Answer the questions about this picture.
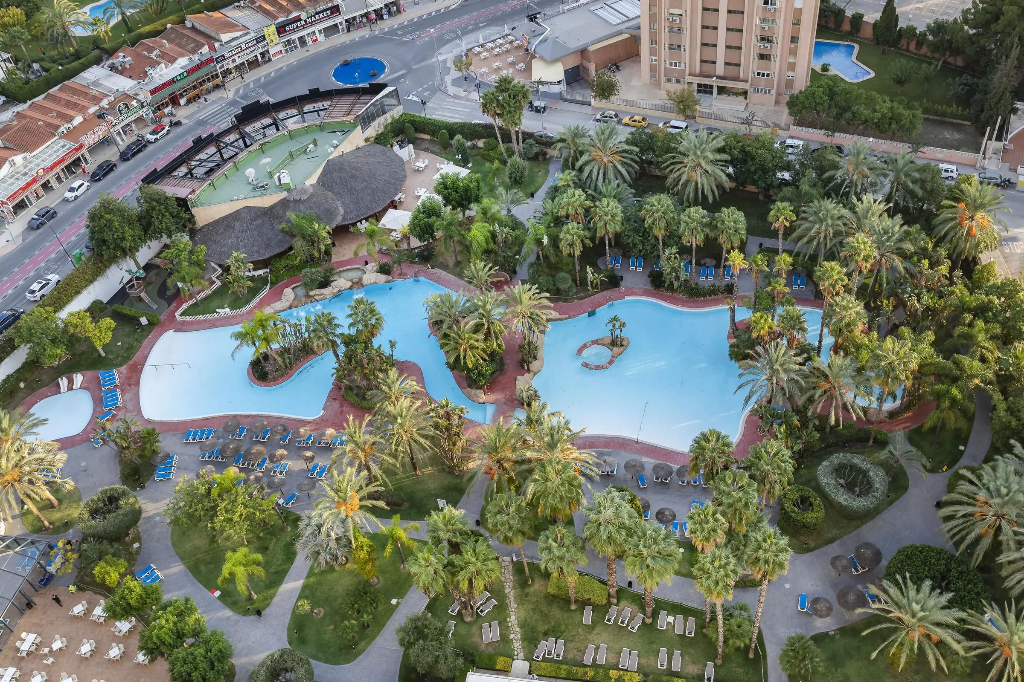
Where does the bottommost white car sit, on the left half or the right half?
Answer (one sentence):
You can find the bottommost white car on the left side of the picture.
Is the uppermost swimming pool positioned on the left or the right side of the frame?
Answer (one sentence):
You can find the uppermost swimming pool on the left side of the picture.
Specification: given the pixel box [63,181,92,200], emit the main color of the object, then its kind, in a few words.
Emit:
white car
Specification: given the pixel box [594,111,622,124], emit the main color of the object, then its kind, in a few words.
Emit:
gray vehicle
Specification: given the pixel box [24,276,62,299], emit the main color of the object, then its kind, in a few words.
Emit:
white car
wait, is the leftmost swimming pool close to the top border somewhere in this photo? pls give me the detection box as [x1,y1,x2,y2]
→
[68,0,137,35]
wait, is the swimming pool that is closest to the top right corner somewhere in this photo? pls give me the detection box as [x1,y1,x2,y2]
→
[820,41,872,80]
